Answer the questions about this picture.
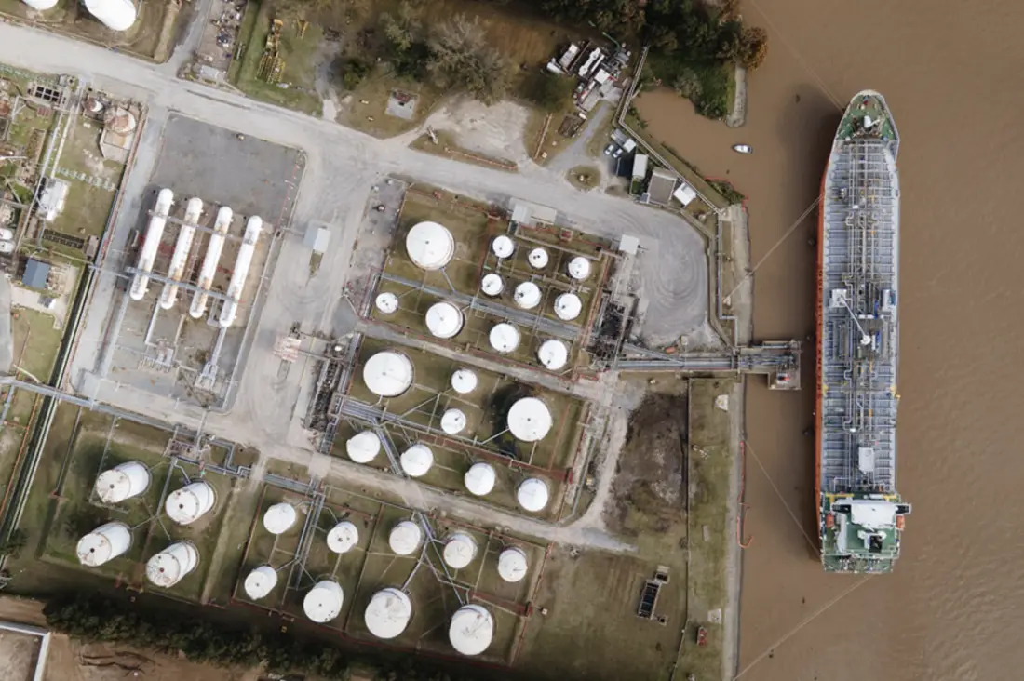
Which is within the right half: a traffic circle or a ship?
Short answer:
ship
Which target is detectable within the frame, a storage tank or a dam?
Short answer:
storage tank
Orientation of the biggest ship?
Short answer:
up and down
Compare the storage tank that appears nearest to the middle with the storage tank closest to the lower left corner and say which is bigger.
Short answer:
the storage tank closest to the lower left corner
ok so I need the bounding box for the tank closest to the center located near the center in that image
[489,321,522,356]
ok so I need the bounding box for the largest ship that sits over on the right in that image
[814,90,910,572]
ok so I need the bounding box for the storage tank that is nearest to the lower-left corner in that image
[77,523,136,569]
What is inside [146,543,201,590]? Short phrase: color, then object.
white storage tank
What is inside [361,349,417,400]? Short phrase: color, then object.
white storage tank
